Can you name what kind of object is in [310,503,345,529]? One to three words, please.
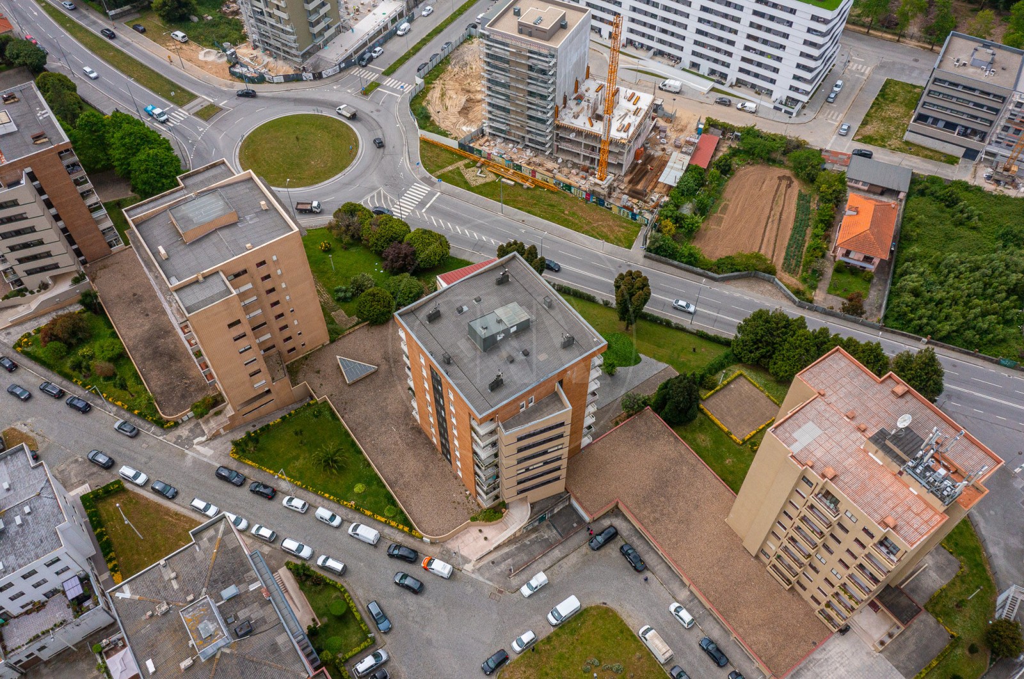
vehicle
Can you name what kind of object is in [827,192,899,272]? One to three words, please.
house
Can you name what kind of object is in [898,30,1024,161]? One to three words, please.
building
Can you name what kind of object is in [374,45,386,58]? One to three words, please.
vehicle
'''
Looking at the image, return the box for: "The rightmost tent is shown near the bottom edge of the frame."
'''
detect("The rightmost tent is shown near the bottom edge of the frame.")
[107,648,142,679]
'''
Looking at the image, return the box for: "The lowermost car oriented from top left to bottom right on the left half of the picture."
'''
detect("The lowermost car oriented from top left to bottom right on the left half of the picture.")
[363,598,394,635]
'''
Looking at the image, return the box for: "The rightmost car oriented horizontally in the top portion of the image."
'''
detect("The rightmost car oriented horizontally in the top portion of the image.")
[852,148,874,160]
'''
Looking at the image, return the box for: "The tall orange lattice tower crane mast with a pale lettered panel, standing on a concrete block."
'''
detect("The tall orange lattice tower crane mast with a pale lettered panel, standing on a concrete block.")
[585,13,627,188]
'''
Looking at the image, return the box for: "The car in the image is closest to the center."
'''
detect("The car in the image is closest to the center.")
[541,256,564,272]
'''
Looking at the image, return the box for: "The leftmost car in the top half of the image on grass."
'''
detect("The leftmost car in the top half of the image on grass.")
[129,21,148,33]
